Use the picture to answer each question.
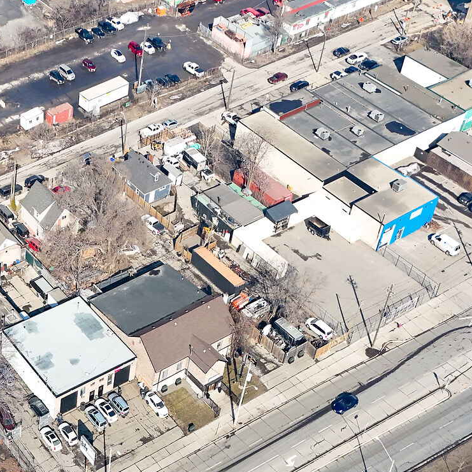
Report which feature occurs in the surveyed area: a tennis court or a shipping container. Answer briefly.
shipping container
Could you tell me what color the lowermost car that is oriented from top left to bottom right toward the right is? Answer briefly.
white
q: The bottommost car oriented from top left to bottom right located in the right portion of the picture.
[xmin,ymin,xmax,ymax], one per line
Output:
[304,318,336,342]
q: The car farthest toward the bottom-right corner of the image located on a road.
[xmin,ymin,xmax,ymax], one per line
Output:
[330,392,361,412]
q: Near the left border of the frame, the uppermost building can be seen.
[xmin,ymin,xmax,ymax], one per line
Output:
[19,106,44,129]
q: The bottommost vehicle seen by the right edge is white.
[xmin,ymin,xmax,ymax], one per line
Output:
[427,233,462,257]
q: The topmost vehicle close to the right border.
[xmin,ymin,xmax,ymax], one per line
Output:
[452,0,470,19]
